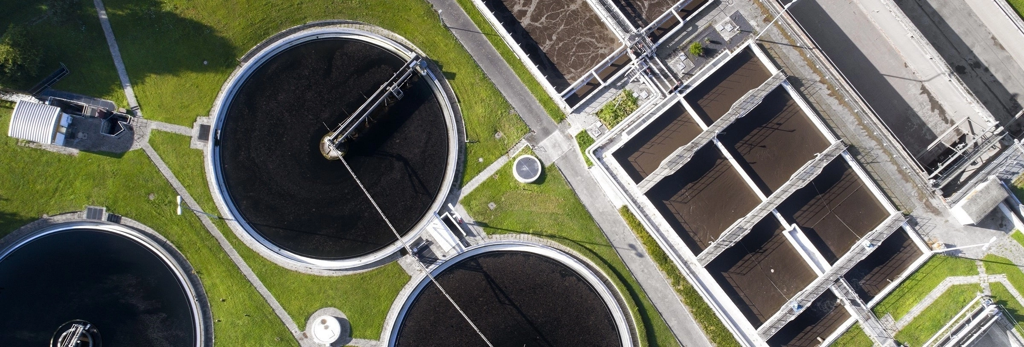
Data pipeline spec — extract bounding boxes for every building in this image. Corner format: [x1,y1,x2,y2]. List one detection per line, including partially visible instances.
[953,175,1009,226]
[7,100,82,149]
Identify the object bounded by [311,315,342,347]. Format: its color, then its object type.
white storage tank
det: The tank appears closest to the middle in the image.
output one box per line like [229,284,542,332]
[513,155,541,183]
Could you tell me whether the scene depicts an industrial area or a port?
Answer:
industrial area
